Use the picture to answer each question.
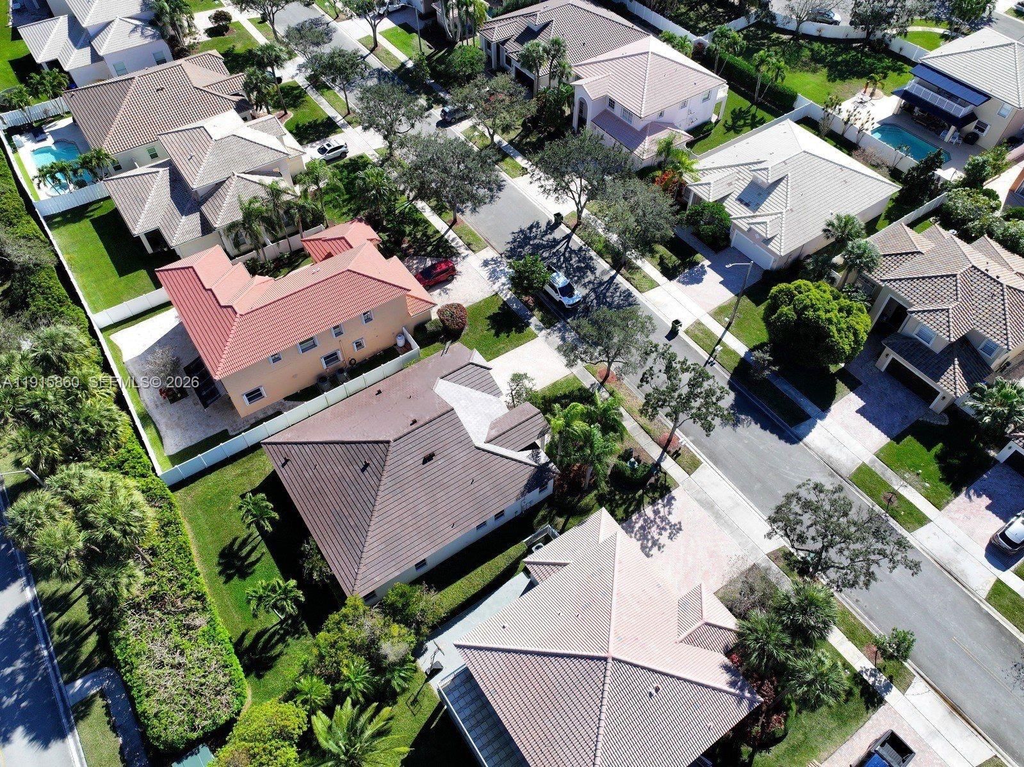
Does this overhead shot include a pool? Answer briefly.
Yes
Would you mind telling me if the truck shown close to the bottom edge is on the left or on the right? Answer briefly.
right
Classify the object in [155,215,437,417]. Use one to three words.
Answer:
house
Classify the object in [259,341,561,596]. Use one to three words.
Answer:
house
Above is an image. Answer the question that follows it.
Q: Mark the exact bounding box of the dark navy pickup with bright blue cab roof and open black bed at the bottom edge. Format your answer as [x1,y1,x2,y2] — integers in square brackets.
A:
[843,723,917,767]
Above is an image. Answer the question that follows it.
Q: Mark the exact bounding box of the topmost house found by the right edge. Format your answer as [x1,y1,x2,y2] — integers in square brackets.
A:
[881,27,1024,154]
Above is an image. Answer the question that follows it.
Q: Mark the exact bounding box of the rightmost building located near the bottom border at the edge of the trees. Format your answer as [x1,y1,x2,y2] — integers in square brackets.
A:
[452,508,764,767]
